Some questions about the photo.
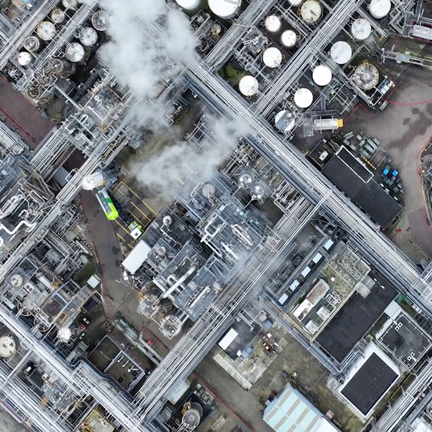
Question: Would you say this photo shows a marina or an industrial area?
industrial area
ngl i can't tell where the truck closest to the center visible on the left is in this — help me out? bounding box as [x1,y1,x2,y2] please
[116,205,144,241]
